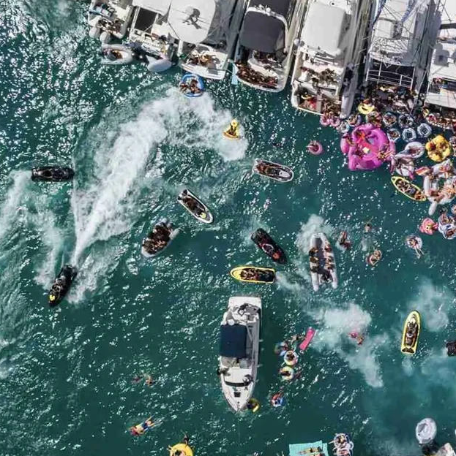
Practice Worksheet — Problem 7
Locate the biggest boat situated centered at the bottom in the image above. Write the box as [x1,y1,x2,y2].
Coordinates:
[218,290,271,416]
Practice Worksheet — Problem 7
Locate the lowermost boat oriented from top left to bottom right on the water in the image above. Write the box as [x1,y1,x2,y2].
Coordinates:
[249,225,282,263]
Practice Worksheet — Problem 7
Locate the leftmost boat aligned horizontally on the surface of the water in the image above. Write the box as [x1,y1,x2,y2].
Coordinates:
[30,166,73,182]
